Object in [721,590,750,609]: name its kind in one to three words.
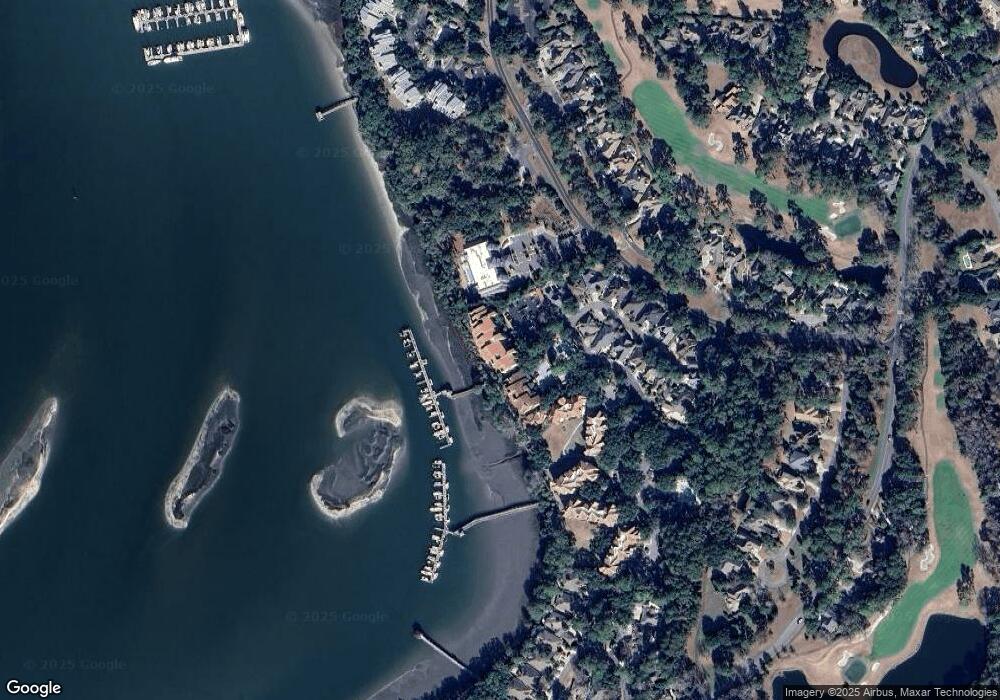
house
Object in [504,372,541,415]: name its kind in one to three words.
building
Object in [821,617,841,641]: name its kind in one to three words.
house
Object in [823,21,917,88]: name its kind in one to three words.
pond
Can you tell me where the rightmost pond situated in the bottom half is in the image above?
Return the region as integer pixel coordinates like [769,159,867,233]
[866,614,992,700]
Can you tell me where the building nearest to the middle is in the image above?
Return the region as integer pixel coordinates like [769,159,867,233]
[468,303,520,372]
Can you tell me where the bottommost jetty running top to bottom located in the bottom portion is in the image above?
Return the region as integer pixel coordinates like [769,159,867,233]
[422,463,450,581]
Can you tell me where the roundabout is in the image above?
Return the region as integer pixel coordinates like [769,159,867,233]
[760,558,788,590]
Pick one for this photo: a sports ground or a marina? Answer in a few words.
marina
